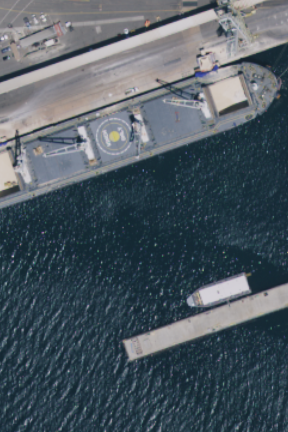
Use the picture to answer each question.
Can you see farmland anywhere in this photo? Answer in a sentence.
No, the picture contains no farmland.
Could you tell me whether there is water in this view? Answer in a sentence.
Yes, there is water in the image.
